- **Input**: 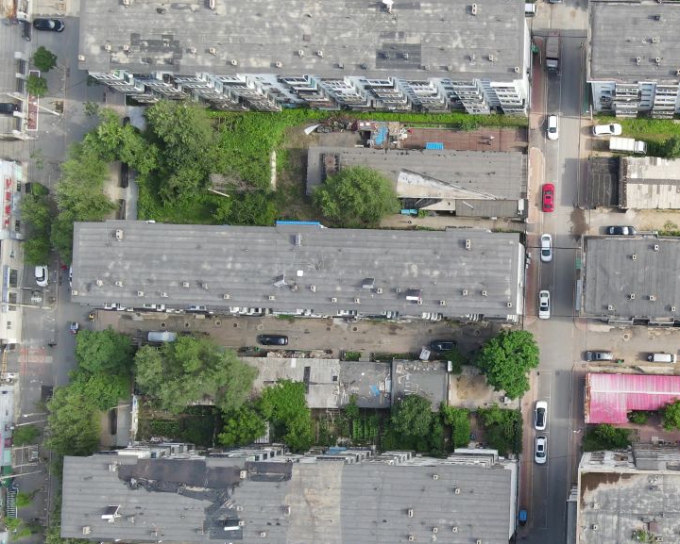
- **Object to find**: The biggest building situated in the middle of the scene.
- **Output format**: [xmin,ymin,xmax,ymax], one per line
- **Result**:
[71,217,530,327]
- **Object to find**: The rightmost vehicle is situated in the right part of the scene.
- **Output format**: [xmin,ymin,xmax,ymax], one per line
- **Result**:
[649,350,676,363]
